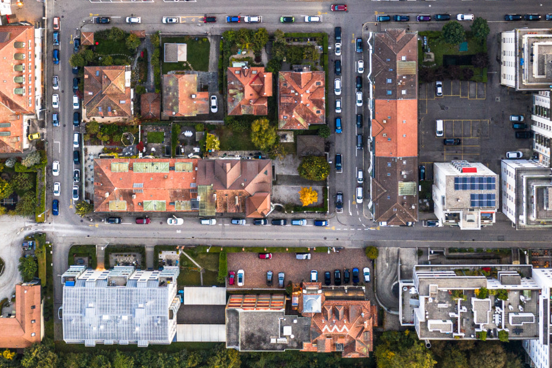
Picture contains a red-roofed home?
Yes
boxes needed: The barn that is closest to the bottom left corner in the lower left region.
[0,280,45,348]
